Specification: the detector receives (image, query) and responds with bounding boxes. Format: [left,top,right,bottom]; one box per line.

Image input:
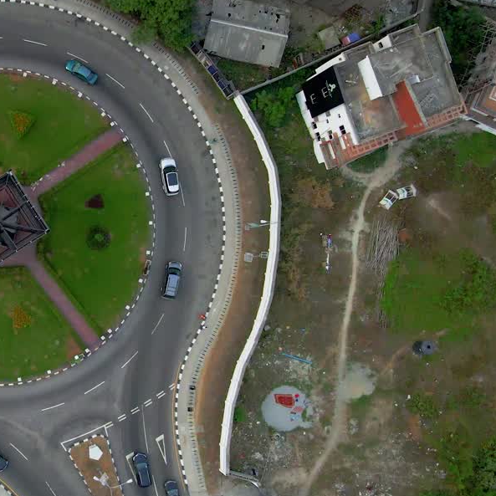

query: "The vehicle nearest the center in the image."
[161,262,183,300]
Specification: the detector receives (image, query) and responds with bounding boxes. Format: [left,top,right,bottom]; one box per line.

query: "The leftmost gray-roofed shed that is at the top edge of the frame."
[199,0,290,72]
